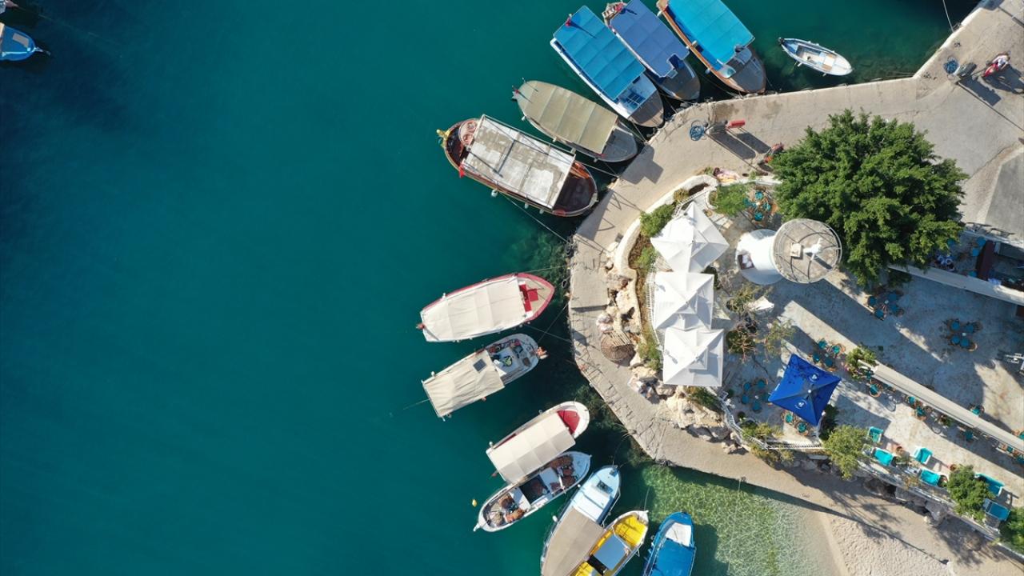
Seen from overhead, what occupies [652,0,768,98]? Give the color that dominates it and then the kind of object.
blue boat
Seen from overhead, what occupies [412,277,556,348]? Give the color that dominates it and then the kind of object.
white boat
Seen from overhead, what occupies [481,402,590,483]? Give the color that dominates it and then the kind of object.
white boat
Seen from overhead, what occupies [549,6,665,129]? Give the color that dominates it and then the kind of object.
blue boat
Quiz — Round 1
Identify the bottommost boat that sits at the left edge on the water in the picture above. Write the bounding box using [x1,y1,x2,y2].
[0,23,50,62]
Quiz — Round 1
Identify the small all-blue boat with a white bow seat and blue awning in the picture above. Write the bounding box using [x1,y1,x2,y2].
[645,510,696,576]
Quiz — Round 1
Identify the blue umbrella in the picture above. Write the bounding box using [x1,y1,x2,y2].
[767,353,841,425]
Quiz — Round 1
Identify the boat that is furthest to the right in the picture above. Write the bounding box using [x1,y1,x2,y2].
[774,38,854,77]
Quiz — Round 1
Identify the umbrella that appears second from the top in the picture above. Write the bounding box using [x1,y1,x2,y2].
[651,272,715,330]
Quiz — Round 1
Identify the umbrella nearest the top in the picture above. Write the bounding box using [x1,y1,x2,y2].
[650,201,730,273]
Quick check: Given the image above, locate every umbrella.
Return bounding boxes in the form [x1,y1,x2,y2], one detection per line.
[650,201,730,273]
[662,326,724,387]
[651,272,715,330]
[767,353,841,425]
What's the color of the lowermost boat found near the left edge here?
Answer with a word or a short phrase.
blue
